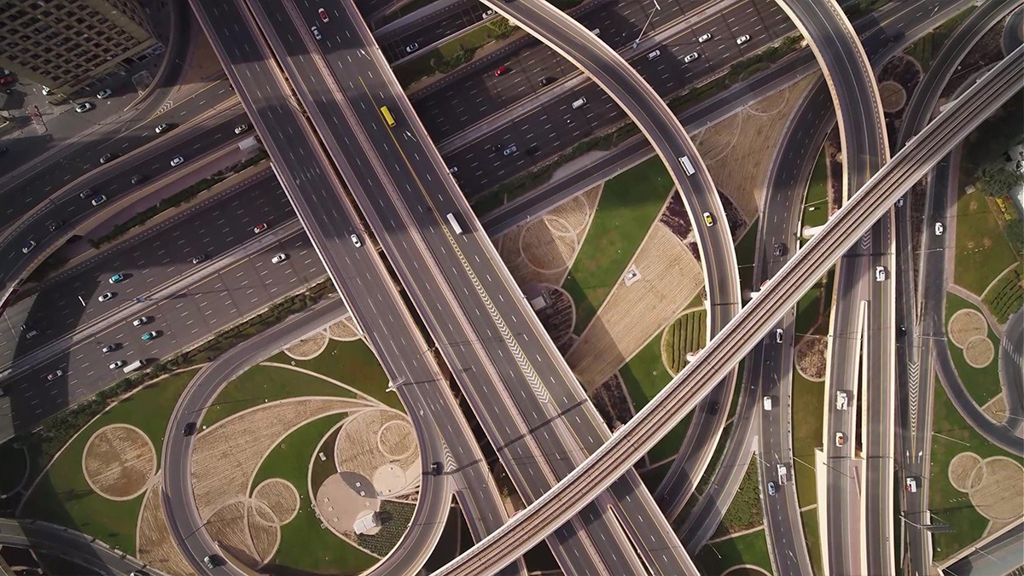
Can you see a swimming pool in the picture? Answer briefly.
No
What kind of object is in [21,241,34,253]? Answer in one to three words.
vehicle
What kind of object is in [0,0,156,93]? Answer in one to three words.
building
